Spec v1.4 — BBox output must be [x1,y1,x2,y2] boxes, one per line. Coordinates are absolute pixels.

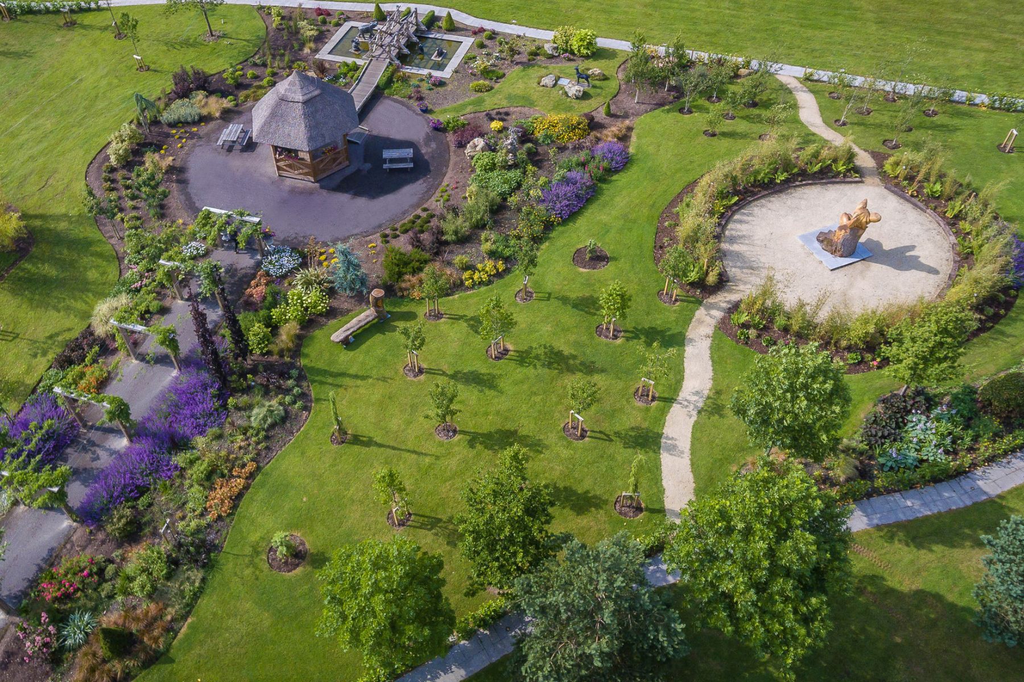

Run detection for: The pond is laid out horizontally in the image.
[315,20,475,77]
